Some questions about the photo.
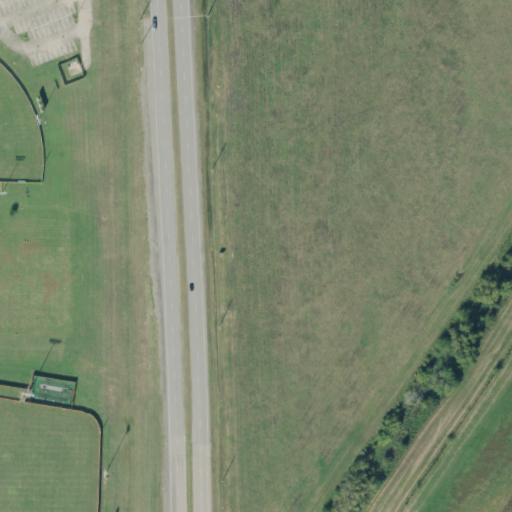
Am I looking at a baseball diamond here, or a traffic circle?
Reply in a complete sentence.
Looking from above, you can make out a baseball diamond.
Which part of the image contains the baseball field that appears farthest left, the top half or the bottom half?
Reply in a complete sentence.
The baseball field that appears farthest left is in the top half of the image.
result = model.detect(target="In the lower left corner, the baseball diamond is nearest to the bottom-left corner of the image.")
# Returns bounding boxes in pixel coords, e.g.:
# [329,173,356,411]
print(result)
[0,398,100,512]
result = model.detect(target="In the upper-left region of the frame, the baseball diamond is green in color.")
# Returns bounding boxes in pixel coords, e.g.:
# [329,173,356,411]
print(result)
[0,64,42,182]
